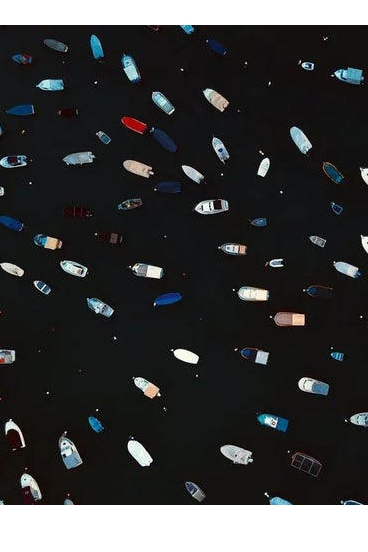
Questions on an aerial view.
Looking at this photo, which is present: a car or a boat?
boat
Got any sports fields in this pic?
No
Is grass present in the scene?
No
